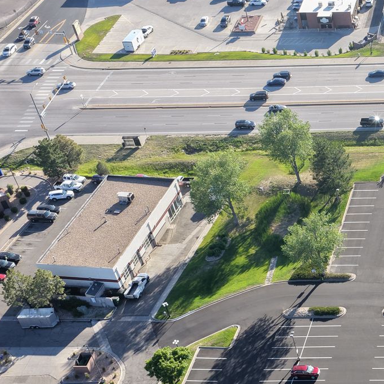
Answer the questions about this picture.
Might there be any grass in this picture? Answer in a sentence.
Yes, some grass is visible.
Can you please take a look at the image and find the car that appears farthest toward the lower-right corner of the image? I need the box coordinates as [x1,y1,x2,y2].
[289,365,320,378]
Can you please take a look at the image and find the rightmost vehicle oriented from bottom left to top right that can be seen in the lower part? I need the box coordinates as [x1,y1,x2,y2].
[121,274,151,298]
